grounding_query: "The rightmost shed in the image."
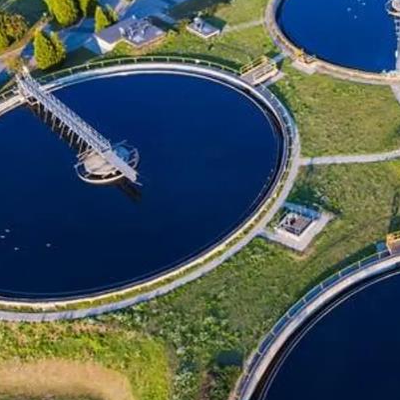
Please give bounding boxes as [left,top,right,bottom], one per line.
[187,20,222,43]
